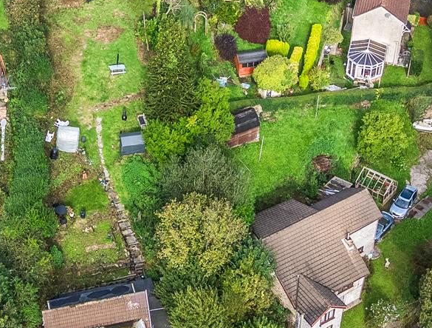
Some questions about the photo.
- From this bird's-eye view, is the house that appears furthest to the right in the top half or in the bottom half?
top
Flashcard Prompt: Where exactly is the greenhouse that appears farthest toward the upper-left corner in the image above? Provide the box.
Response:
[57,121,84,152]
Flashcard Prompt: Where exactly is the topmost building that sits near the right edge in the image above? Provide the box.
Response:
[346,0,412,86]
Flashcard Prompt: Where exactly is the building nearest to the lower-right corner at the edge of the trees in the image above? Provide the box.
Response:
[242,181,384,328]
